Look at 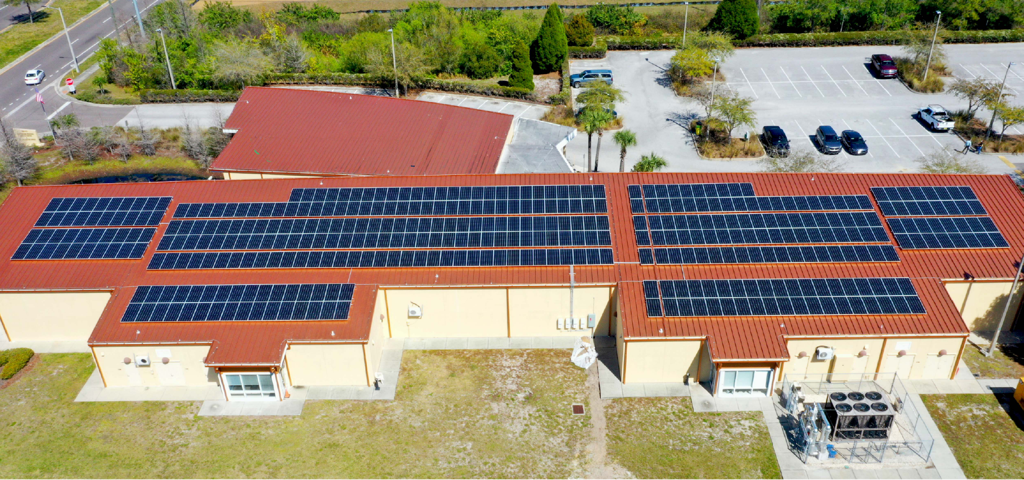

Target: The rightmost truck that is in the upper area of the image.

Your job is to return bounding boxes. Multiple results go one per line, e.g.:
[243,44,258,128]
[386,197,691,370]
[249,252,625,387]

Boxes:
[915,98,953,128]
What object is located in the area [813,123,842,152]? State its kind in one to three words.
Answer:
car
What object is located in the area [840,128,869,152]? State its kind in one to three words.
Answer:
car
